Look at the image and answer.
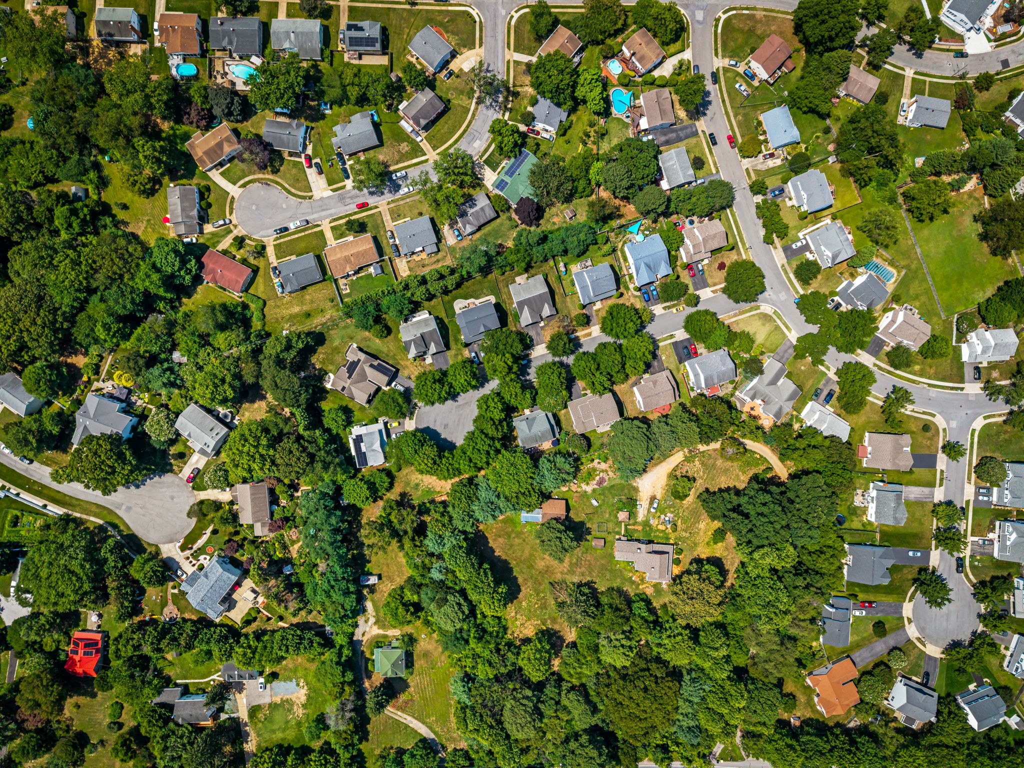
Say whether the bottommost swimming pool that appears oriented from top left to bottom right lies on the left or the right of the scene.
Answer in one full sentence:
The bottommost swimming pool that appears oriented from top left to bottom right sits on the right side.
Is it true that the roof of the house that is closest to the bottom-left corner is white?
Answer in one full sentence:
No, the roof of the house that is closest to the bottom-left corner is red.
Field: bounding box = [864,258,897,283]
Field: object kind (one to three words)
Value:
swimming pool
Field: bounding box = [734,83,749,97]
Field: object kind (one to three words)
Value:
vehicle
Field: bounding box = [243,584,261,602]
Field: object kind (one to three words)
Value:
gazebo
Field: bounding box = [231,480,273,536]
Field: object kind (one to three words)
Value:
house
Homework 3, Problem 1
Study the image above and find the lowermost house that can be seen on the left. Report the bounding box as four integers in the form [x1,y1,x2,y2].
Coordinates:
[161,685,213,724]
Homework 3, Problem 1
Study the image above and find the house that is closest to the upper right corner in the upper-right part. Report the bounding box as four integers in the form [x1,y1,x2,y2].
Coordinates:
[937,0,1003,38]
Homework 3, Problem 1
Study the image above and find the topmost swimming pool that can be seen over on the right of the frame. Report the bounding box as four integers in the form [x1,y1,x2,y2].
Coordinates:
[608,57,623,74]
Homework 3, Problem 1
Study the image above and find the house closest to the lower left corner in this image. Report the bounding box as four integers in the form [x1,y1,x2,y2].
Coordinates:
[65,630,107,680]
